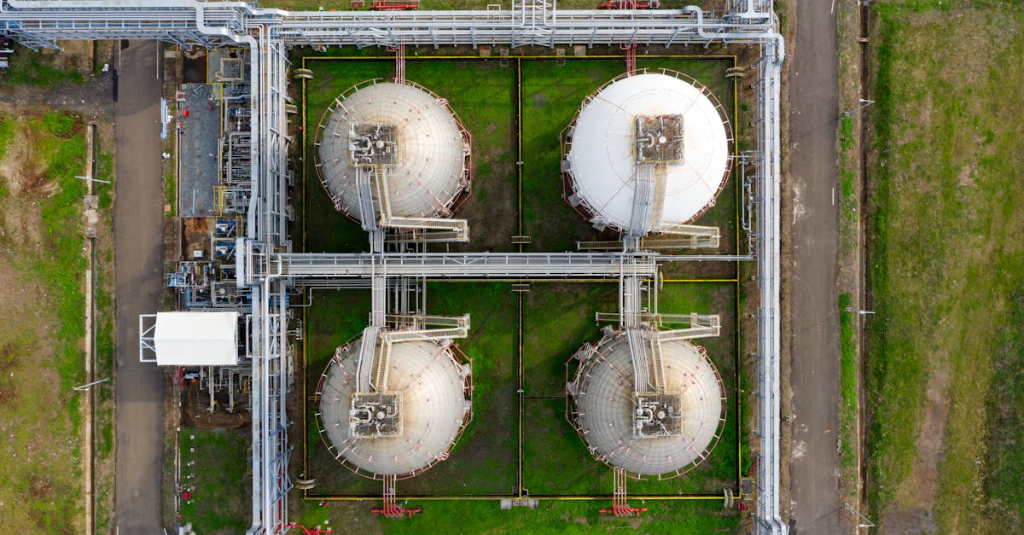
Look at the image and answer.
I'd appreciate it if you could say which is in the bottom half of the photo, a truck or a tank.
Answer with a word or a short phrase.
tank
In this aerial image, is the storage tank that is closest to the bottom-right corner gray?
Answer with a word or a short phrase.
Yes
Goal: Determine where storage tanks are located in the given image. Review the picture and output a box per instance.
[559,279,726,480]
[316,279,481,481]
[315,77,480,253]
[554,69,732,253]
